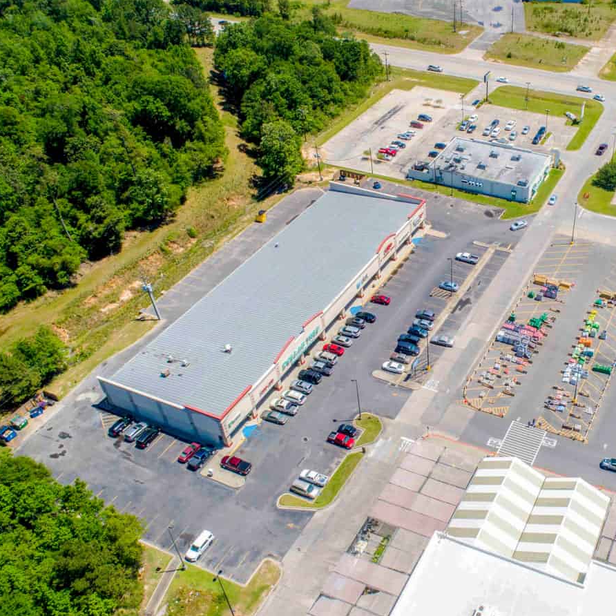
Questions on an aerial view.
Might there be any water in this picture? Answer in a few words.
No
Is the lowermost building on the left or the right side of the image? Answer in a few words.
right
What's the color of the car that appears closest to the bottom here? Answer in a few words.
white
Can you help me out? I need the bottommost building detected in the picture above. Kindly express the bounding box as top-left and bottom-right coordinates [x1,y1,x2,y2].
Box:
[393,455,616,616]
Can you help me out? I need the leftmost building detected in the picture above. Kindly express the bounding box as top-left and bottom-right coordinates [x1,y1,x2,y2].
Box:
[97,180,428,454]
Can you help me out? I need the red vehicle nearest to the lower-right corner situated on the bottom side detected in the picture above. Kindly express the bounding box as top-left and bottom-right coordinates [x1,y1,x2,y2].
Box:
[325,430,357,450]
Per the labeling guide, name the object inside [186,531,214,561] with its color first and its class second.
white car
